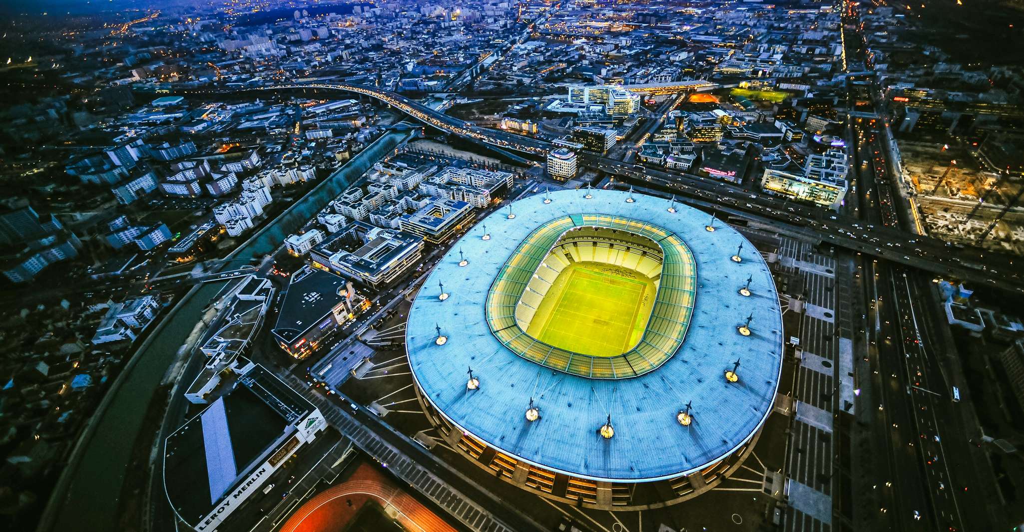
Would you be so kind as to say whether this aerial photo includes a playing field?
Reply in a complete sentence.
Yes, there's a playing field here.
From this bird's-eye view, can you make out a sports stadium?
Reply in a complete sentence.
Yes, there's a sports stadium here.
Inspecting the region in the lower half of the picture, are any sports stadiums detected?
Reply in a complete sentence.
Yes, there is a sports stadium in the lower half of the picture.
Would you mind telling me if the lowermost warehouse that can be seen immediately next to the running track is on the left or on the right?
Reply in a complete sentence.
The lowermost warehouse that can be seen immediately next to the running track is on the left side of the image.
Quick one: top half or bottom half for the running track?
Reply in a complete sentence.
Seen from above, the running track lies in the bottom half of the view.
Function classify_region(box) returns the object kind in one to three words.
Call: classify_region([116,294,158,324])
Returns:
building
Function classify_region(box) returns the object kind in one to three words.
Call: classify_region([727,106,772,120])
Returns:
building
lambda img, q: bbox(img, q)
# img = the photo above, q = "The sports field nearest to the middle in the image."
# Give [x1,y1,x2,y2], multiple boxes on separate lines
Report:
[538,271,644,359]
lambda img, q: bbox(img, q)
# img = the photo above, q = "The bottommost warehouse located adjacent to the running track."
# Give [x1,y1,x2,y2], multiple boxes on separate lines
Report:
[162,364,323,532]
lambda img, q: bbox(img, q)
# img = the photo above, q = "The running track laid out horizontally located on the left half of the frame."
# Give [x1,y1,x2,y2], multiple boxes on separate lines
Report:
[273,474,461,532]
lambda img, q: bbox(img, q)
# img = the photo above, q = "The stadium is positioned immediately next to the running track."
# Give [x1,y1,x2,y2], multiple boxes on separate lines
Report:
[404,183,786,514]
